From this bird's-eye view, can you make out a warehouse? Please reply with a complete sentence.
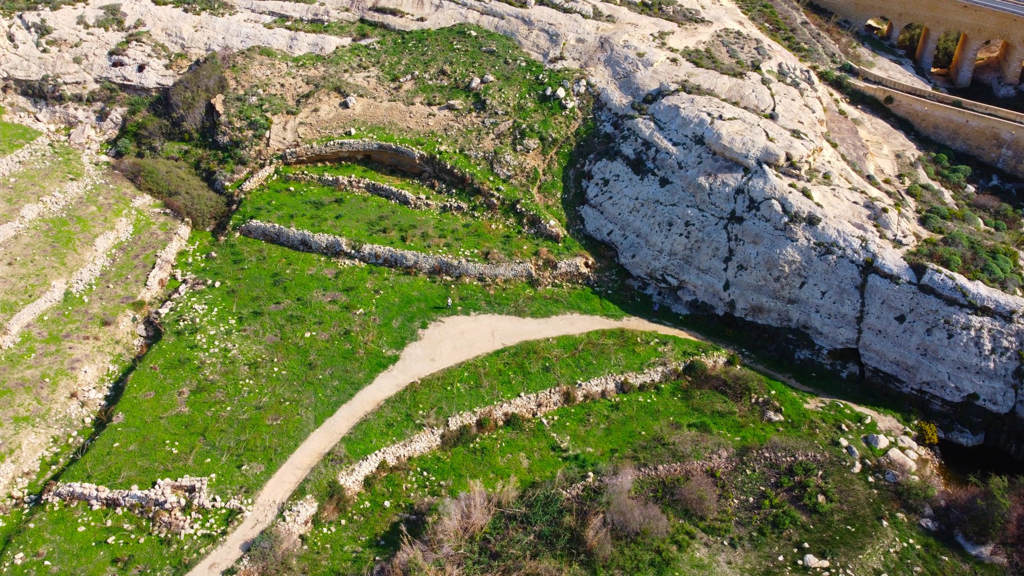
No, the photo shows no warehouse.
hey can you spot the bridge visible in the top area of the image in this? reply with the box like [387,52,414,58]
[837,0,1024,97]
